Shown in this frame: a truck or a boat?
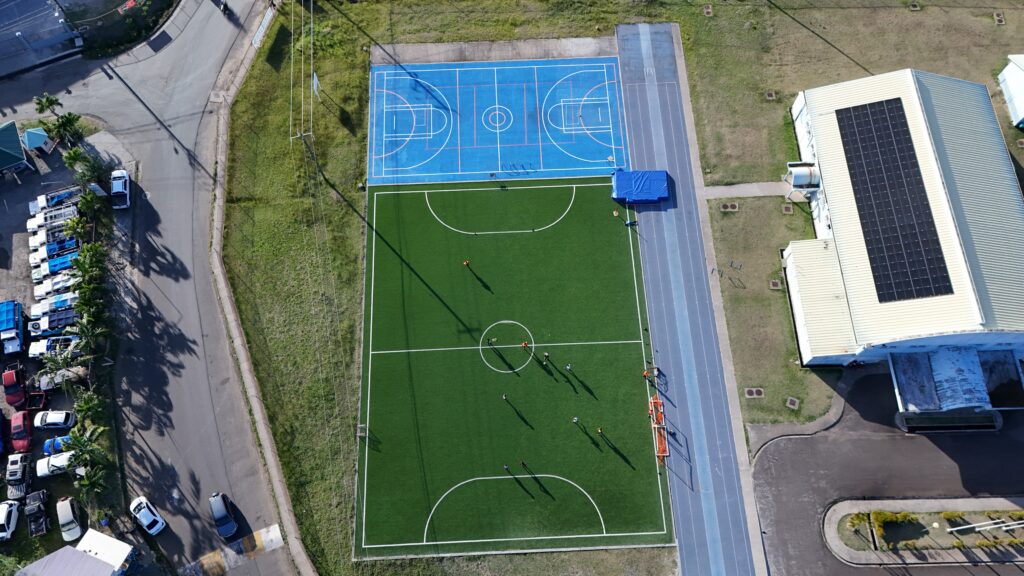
truck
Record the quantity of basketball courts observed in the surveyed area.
1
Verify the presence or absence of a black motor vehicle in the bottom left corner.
Yes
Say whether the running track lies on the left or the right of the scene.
right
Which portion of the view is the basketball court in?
top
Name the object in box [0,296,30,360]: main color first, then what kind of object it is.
blue truck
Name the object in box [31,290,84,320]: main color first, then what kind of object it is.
white truck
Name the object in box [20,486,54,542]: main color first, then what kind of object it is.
black truck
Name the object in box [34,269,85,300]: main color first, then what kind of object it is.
white truck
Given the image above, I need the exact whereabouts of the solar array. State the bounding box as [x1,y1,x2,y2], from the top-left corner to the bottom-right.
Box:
[819,99,955,303]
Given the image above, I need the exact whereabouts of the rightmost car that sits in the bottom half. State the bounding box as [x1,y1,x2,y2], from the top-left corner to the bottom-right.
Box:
[208,490,239,539]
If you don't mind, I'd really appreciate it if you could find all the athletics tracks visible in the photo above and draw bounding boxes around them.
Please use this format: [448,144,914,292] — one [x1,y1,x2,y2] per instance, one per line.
[615,22,771,576]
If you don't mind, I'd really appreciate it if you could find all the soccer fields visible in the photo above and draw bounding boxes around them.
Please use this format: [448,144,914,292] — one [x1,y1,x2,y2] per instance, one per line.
[351,177,678,560]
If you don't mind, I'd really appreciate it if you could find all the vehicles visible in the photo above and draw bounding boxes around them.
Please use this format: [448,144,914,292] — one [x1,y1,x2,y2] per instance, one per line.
[30,237,84,269]
[0,296,30,360]
[9,410,35,453]
[28,307,84,338]
[34,269,85,300]
[29,182,90,219]
[29,334,82,361]
[38,449,75,475]
[131,493,166,537]
[29,223,69,251]
[31,251,84,285]
[208,490,239,539]
[27,200,83,235]
[55,494,86,545]
[34,410,79,430]
[20,486,54,542]
[4,451,34,500]
[31,290,84,320]
[109,169,133,212]
[0,499,24,542]
[44,434,73,456]
[1,365,31,408]
[0,410,12,453]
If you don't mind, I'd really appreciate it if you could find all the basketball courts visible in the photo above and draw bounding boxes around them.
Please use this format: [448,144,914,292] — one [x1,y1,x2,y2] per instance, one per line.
[366,36,633,186]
